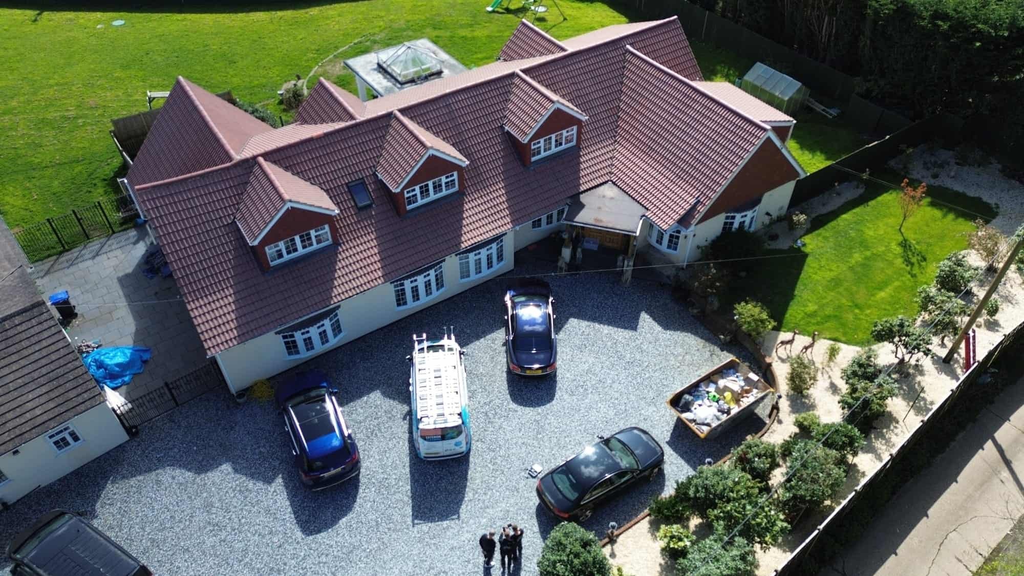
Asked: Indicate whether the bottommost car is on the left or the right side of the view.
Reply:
left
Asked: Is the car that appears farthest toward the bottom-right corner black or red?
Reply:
black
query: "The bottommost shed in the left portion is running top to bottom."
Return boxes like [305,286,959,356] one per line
[0,219,127,508]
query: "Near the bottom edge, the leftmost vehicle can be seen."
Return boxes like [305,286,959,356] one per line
[8,507,154,576]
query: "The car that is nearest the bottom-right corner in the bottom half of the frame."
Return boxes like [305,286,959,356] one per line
[532,426,665,525]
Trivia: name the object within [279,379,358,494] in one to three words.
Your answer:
car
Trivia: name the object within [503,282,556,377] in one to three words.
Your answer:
car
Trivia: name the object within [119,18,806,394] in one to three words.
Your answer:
house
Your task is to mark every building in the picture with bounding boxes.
[0,219,127,508]
[119,18,806,394]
